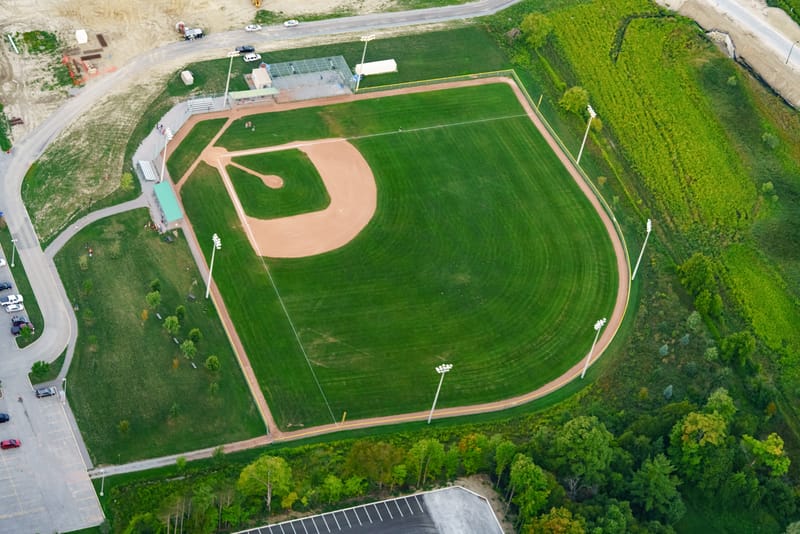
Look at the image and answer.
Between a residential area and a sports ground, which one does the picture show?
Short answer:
sports ground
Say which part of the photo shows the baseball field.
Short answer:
center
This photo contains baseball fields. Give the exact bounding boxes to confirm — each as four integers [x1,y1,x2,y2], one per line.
[159,76,628,444]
